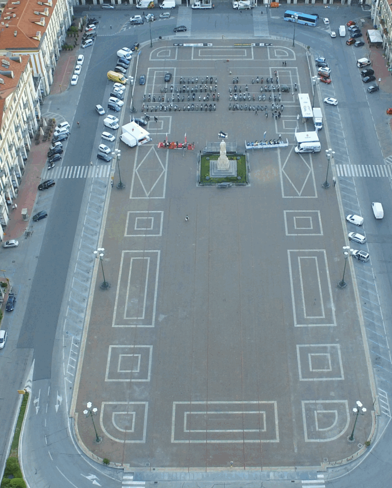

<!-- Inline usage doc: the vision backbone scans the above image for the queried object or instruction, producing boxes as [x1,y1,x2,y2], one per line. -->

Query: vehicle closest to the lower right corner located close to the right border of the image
[352,249,375,261]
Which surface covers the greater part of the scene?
paved ground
